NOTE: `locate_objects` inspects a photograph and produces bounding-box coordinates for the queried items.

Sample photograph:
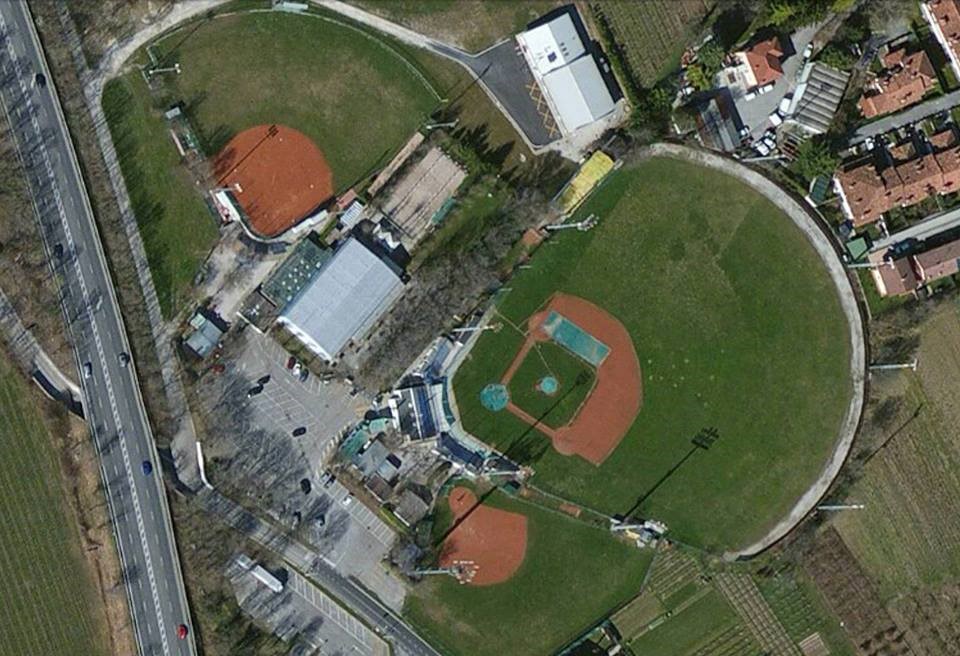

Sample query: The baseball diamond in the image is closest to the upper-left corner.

[150,11,440,239]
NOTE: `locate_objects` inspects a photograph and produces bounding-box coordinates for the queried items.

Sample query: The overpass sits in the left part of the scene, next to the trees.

[80,378,166,492]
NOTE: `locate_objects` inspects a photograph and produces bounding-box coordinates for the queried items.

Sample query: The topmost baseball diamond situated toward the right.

[454,142,866,562]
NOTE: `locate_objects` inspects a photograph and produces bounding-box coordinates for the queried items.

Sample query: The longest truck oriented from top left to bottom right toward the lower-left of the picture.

[239,555,282,590]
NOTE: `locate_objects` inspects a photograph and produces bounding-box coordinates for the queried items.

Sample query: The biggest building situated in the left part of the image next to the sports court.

[272,237,404,365]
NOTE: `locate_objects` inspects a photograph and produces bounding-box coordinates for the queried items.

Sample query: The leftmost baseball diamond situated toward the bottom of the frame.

[404,481,656,656]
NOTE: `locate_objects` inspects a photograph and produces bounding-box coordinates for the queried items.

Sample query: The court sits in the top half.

[379,146,469,238]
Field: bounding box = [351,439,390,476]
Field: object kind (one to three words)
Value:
building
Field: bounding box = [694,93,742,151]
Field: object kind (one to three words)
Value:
shed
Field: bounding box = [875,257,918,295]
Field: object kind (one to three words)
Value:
house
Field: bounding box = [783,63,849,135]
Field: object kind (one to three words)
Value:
building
